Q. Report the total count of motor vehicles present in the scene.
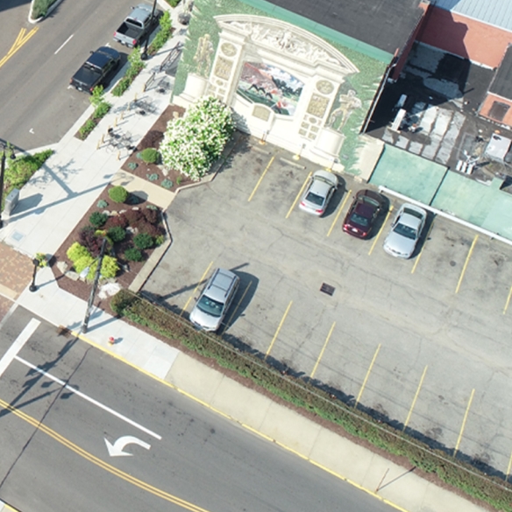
6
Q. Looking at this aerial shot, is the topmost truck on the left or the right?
left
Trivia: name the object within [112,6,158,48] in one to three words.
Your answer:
truck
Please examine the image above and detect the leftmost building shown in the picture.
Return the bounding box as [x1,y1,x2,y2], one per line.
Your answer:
[171,0,424,174]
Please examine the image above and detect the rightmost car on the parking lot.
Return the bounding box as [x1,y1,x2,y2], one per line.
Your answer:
[384,205,428,259]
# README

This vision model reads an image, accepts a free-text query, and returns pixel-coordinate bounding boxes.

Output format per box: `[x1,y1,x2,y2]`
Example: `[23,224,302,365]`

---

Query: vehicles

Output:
[112,6,158,48]
[384,205,428,259]
[342,193,386,241]
[189,266,240,331]
[68,49,121,95]
[297,173,338,218]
